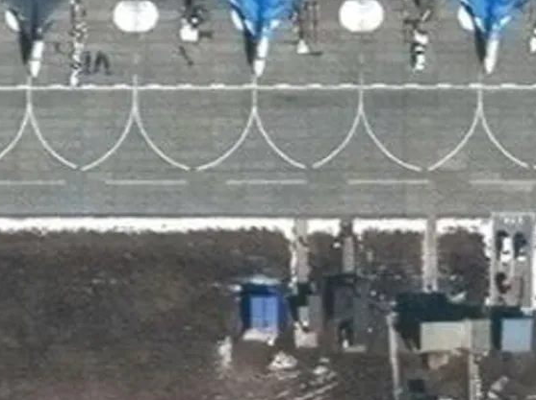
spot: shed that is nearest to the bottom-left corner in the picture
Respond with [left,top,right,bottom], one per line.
[235,280,286,330]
